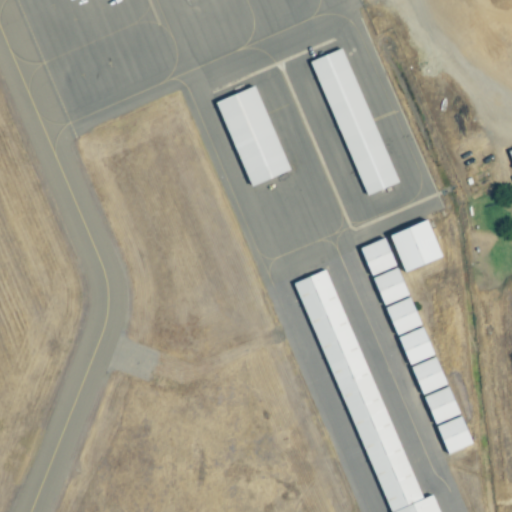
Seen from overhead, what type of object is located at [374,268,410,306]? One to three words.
hangar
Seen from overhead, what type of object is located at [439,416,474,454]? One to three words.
hangar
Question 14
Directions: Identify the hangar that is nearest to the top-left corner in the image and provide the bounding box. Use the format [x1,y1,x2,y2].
[217,86,292,186]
